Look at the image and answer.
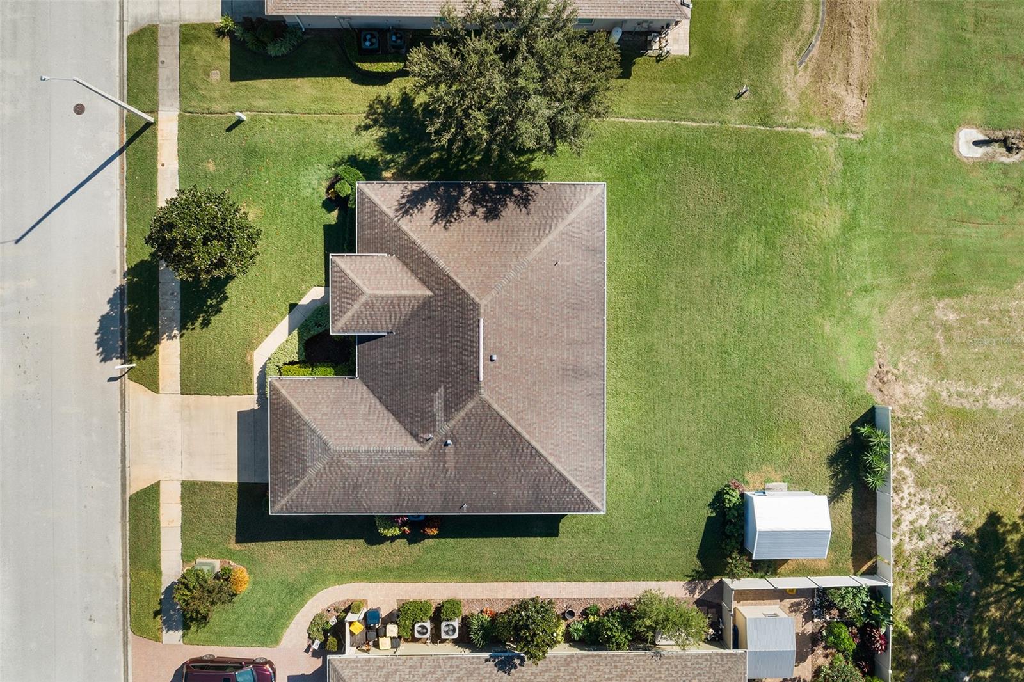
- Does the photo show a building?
Yes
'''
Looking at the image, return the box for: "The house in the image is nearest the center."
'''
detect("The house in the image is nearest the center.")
[267,180,608,516]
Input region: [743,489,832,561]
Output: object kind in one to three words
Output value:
shed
